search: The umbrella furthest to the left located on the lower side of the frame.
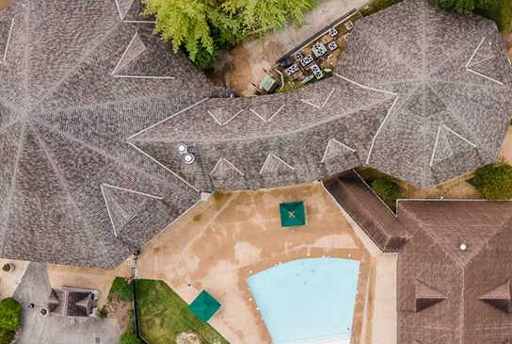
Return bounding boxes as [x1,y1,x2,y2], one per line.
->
[188,289,222,323]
